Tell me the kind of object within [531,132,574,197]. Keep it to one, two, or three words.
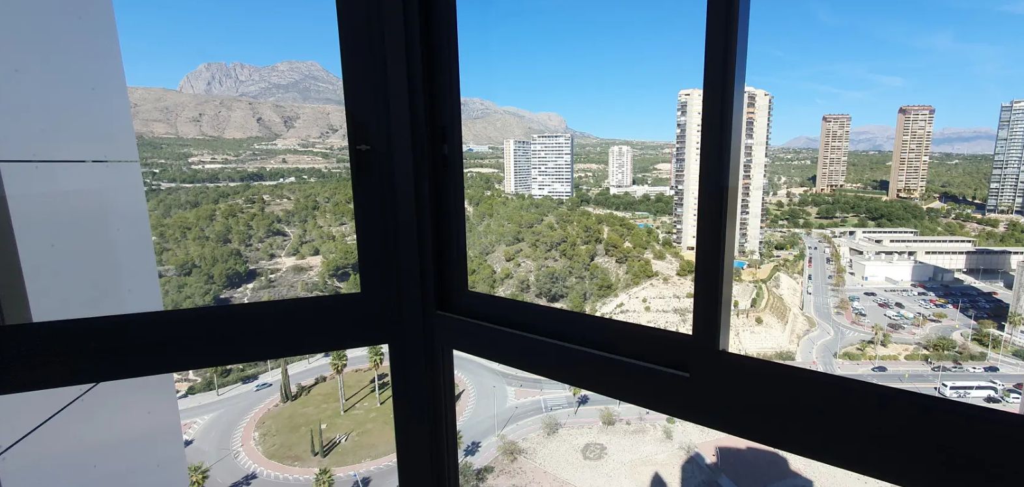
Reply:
building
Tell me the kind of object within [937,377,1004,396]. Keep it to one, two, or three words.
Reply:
vehicle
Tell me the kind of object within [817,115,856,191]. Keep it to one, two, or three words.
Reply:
building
